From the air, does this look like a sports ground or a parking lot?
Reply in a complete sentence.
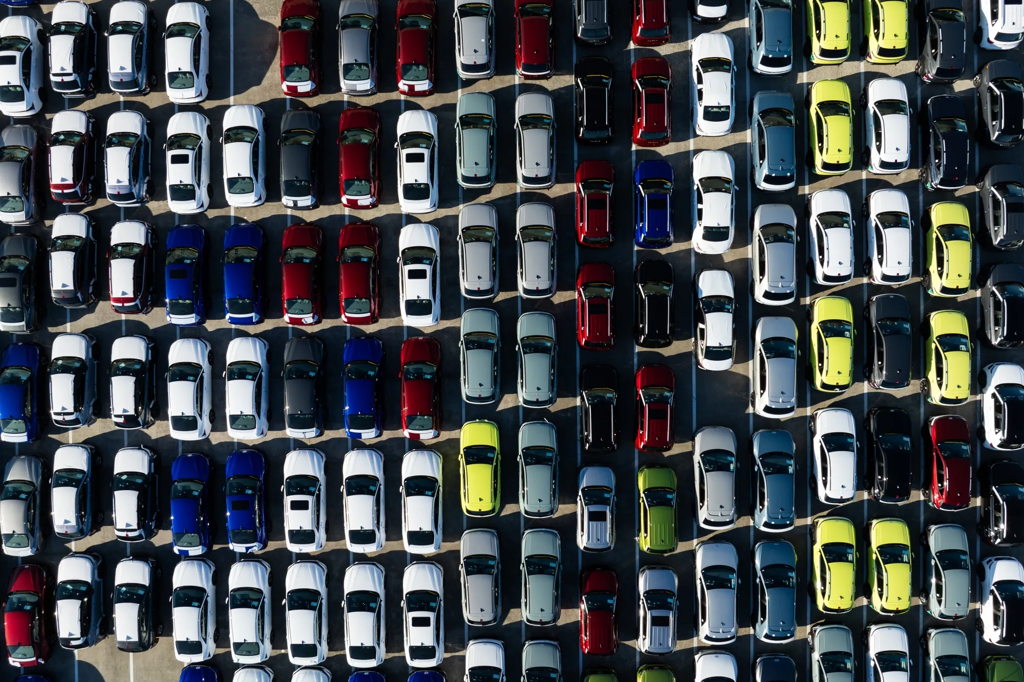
This looks like a parking lot.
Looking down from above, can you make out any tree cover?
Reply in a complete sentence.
No, the picture contains no tree cover.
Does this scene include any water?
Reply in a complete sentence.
No, the picture contains no water.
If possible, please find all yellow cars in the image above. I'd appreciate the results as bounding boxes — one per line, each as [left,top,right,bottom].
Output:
[806,297,856,392]
[459,421,502,516]
[921,201,975,296]
[803,0,854,66]
[808,517,859,613]
[859,0,912,66]
[805,79,856,175]
[863,518,915,614]
[920,310,974,405]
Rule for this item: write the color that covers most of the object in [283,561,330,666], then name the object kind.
white car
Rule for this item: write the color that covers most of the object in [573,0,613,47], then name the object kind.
black car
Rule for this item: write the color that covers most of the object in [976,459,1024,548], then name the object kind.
black car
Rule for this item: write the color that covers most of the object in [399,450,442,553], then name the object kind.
white car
